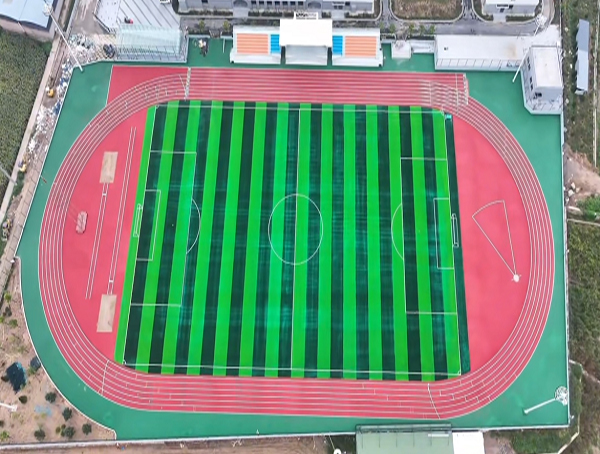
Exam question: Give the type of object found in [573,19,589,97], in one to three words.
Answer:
shed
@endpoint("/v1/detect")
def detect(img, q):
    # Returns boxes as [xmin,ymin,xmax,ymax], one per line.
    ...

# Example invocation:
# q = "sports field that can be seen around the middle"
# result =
[114,99,470,383]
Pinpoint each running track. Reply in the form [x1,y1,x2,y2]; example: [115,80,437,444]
[39,64,554,419]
